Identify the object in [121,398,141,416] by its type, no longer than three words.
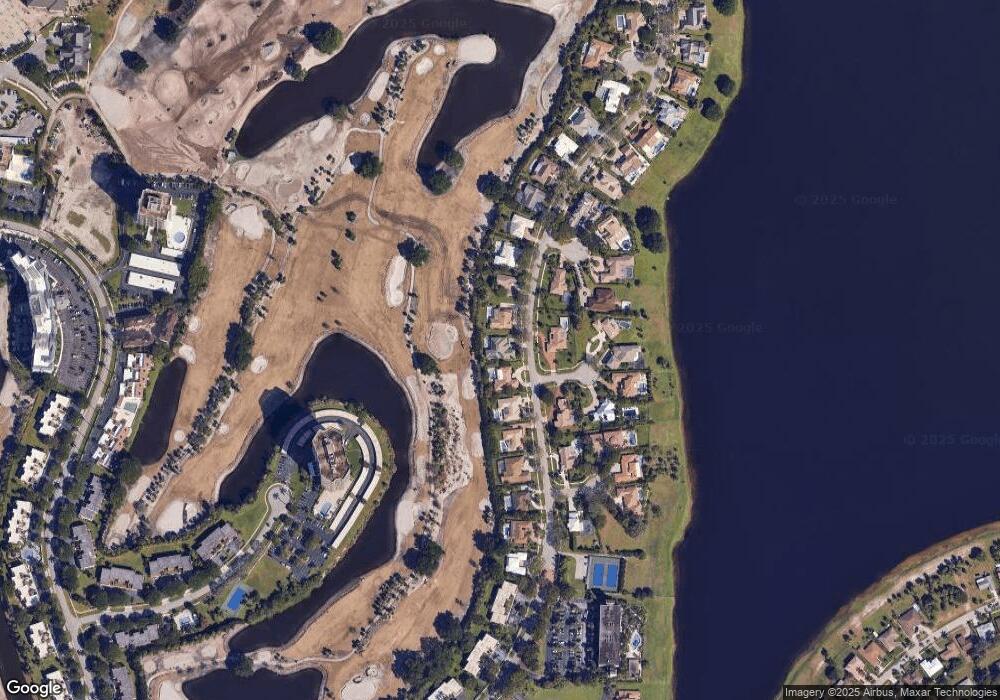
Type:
swimming pool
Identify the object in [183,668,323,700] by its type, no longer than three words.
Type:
pond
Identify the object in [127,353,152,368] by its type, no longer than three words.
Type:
house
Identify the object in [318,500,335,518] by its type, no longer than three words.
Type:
swimming pool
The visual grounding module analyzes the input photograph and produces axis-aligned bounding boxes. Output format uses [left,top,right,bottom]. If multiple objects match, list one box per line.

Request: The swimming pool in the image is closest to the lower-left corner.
[20,550,40,565]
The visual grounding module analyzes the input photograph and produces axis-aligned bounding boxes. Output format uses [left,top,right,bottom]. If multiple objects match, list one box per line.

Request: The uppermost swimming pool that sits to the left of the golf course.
[20,163,32,181]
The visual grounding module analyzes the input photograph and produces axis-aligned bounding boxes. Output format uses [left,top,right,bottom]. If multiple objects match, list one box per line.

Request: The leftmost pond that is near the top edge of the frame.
[234,0,556,194]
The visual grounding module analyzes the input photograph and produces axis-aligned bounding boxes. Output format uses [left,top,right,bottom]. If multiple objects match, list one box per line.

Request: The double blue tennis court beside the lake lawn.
[587,556,622,592]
